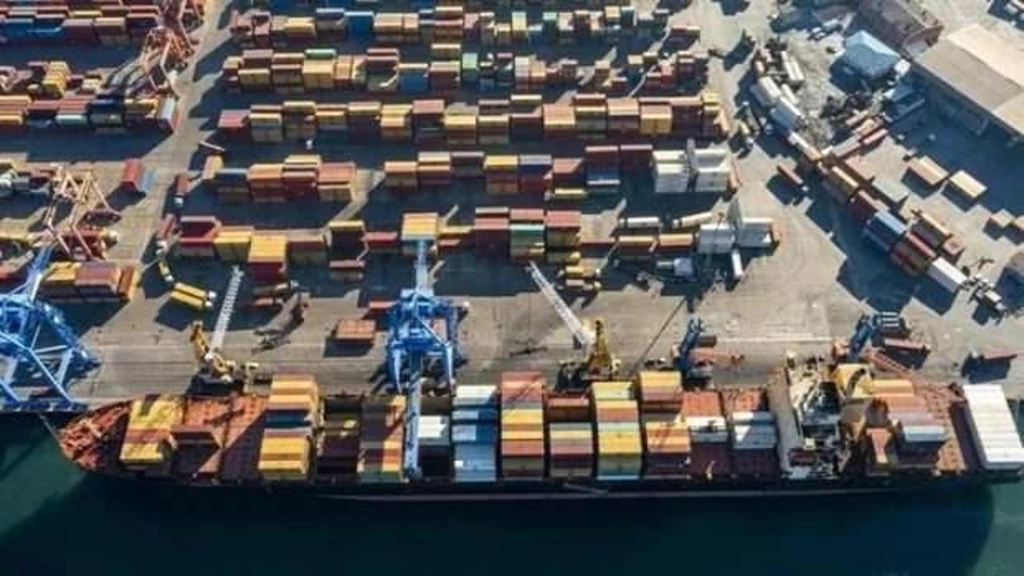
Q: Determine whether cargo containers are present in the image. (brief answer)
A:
Yes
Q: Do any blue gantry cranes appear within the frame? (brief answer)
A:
Yes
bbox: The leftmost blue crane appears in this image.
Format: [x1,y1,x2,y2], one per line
[0,230,104,404]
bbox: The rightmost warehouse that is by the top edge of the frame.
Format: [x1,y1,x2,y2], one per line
[904,26,1024,160]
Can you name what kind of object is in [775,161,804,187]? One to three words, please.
shipping container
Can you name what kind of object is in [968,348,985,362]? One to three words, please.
vehicle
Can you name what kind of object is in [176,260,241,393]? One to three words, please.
crane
